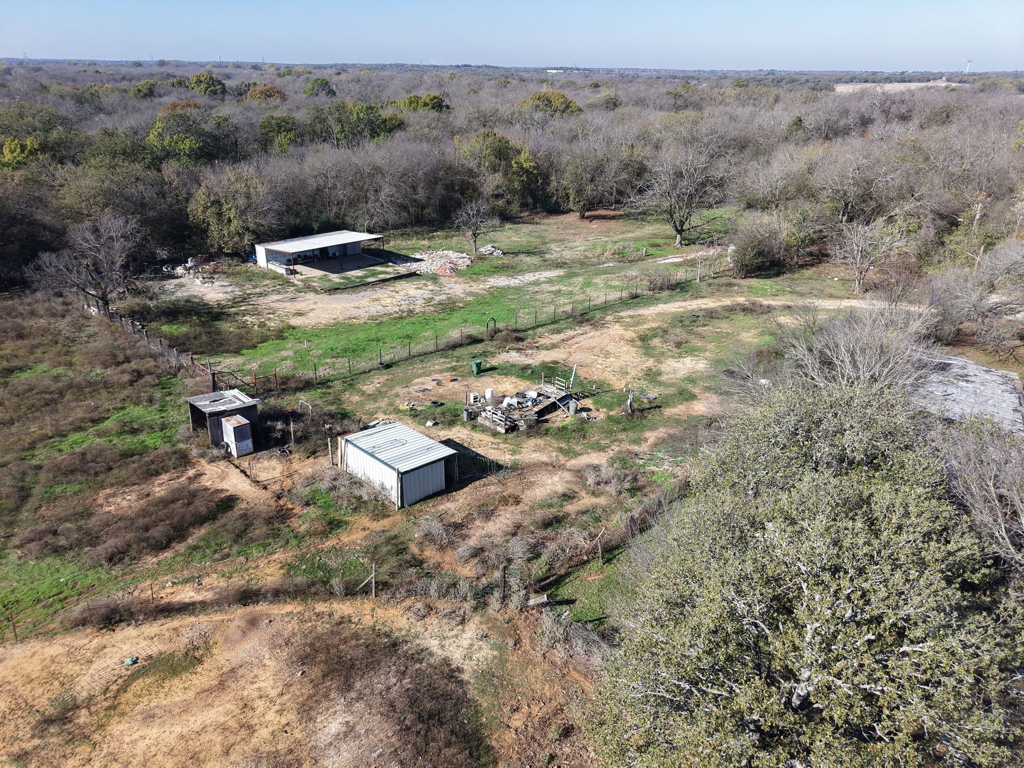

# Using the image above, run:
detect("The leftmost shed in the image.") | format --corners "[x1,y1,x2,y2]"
[179,385,261,449]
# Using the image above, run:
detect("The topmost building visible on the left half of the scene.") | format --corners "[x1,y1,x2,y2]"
[258,226,386,279]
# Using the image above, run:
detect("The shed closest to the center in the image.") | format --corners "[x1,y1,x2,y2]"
[325,416,461,516]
